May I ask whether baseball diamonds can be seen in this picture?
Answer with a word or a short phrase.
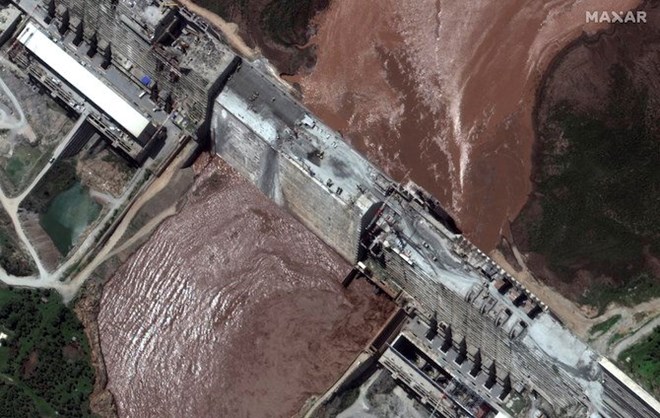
No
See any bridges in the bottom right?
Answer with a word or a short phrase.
No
